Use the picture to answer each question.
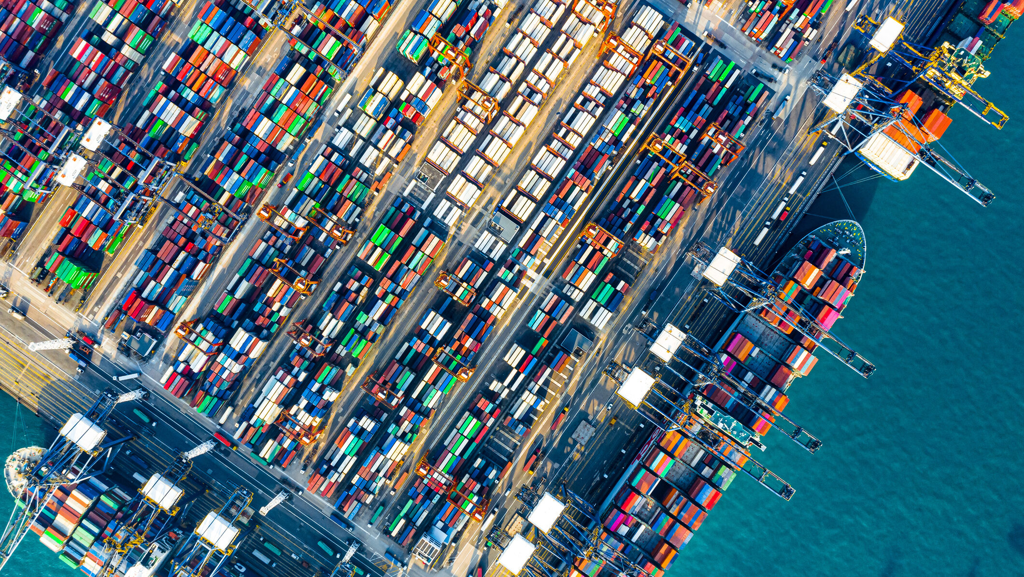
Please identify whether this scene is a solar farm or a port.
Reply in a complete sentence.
The picture captures a port.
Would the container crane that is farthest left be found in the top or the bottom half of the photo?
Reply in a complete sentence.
It is in the bottom half that the container crane that is farthest left appears.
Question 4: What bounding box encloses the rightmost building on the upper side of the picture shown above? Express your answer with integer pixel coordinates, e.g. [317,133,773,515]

[488,211,520,243]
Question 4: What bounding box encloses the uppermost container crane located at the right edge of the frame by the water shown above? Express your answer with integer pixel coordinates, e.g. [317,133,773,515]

[839,5,1004,127]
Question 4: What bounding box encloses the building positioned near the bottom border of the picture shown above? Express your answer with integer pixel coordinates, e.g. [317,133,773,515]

[411,527,454,566]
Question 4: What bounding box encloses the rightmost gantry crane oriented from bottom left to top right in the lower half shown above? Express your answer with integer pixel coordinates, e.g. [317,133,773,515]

[171,487,263,577]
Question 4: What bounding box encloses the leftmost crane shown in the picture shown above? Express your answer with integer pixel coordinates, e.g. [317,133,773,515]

[0,392,141,569]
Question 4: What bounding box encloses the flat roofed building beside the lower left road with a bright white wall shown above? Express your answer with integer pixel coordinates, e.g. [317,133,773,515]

[114,329,160,356]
